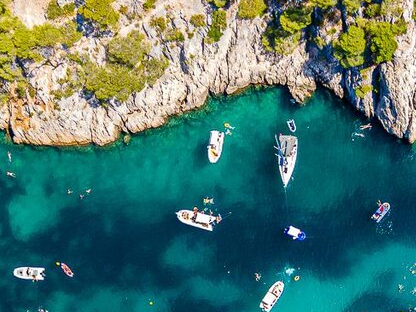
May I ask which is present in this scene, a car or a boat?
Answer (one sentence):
I can see a boat in this picture.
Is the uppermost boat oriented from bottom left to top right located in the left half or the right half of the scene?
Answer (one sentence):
The uppermost boat oriented from bottom left to top right sits on the right side.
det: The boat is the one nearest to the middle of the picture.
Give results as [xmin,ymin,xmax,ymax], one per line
[208,129,224,163]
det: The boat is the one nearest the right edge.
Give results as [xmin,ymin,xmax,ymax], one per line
[369,202,389,224]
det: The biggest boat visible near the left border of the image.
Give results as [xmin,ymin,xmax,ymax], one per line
[15,267,47,281]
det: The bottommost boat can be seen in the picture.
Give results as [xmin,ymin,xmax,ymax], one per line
[257,283,282,312]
